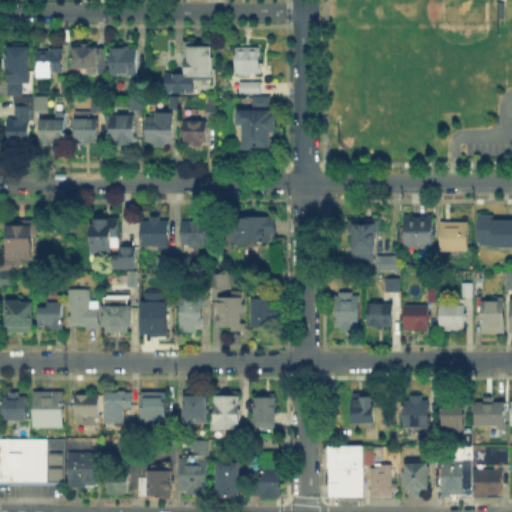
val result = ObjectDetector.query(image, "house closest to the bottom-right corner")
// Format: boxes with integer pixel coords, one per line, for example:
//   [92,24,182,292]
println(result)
[474,468,504,498]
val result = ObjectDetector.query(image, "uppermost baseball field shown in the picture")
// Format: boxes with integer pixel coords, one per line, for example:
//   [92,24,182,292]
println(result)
[427,0,503,52]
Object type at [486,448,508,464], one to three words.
building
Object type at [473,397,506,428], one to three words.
house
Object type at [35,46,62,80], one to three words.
house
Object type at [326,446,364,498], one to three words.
building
